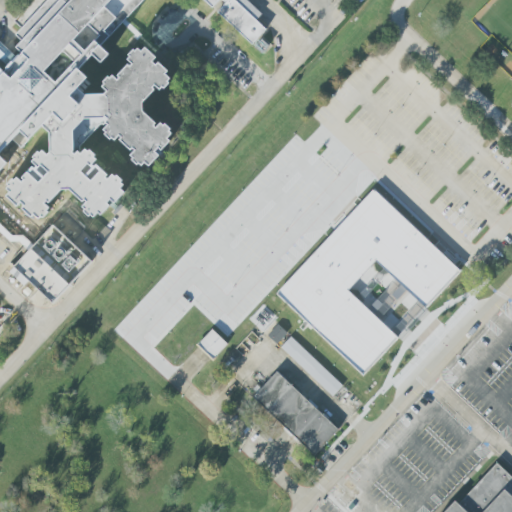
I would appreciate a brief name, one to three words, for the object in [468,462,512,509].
building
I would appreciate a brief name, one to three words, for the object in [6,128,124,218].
building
